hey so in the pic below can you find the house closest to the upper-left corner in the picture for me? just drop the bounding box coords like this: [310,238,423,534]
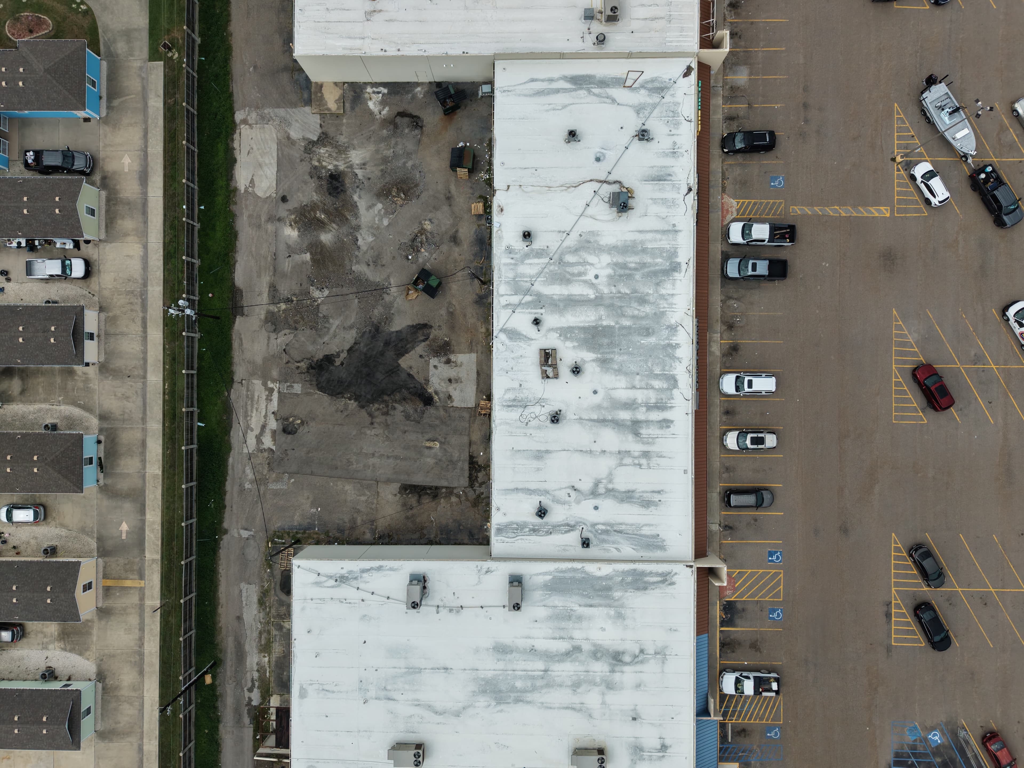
[0,38,101,171]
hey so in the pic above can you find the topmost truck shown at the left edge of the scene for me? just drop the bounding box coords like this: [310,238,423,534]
[21,143,94,172]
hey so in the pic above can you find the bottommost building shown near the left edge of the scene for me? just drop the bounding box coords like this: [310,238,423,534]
[0,680,96,751]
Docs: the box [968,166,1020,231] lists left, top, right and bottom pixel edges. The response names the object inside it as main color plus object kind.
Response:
black truck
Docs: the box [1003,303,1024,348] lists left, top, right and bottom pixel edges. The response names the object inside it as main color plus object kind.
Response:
white car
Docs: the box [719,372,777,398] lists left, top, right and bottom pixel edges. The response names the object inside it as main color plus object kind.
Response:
white car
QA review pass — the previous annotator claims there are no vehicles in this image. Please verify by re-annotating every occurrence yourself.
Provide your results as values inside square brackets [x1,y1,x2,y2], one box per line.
[911,602,950,654]
[727,220,798,248]
[0,622,24,641]
[719,372,777,398]
[968,166,1020,231]
[0,499,46,524]
[21,143,94,172]
[717,669,780,699]
[980,731,1017,768]
[1011,100,1024,132]
[910,165,950,212]
[24,253,93,279]
[723,257,790,283]
[722,427,777,453]
[722,130,777,158]
[1003,303,1024,348]
[912,365,954,415]
[907,543,944,592]
[723,487,774,512]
